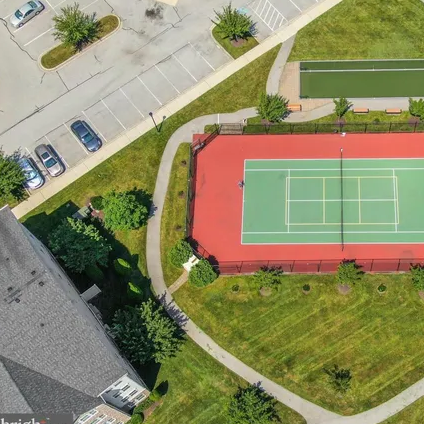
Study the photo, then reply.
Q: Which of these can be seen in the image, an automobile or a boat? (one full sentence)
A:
Of the two, only an automobile appears.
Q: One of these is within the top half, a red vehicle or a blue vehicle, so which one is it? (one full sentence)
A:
It is a blue vehicle that can be seen within the top half.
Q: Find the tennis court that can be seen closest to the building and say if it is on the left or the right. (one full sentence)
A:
The tennis court that can be seen closest to the building sits on the right side.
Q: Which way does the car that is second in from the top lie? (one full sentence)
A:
The car that is second in from the top has been laid out at an angle relative to the frame.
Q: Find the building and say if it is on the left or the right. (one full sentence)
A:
The building sits on the left side.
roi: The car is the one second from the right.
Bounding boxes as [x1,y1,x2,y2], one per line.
[31,142,64,177]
